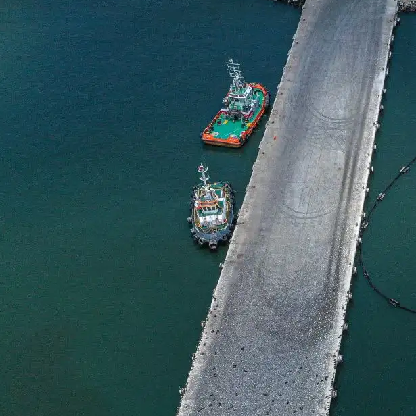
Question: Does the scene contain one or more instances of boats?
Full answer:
Yes, there's a boat down there.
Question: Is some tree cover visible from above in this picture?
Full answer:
No, tree cover can't be seen anywhere here.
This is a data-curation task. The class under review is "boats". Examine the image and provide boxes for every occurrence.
[202,59,271,150]
[189,169,238,253]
